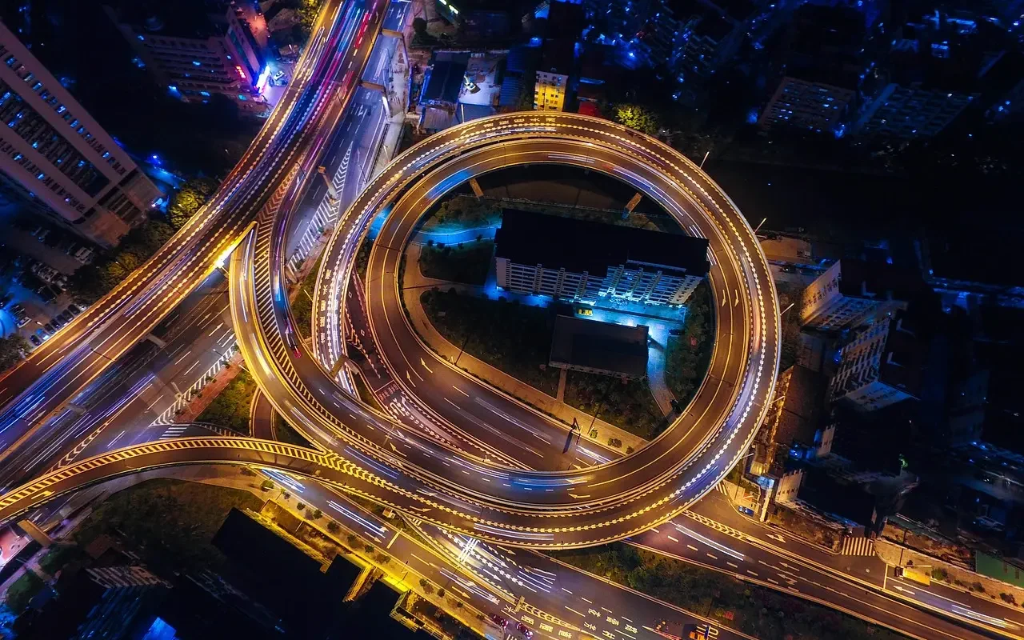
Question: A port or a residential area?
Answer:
residential area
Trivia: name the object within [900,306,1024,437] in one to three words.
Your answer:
house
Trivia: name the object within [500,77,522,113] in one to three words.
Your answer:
shed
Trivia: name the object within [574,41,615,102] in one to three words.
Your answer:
house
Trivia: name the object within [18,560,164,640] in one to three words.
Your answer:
building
